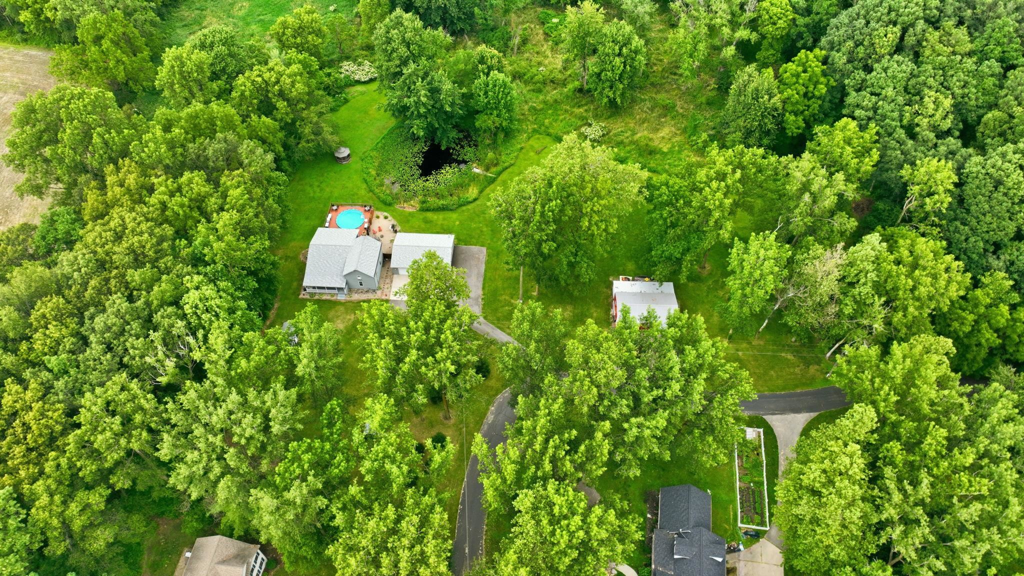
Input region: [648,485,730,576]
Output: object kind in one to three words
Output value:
house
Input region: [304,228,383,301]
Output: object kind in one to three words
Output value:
house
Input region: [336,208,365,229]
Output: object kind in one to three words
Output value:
swimming pool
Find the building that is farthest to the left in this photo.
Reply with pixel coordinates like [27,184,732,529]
[182,537,262,576]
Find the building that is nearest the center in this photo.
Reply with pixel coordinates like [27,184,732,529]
[390,233,456,276]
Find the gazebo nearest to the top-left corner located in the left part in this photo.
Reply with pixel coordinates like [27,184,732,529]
[331,140,350,159]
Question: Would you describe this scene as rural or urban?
rural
